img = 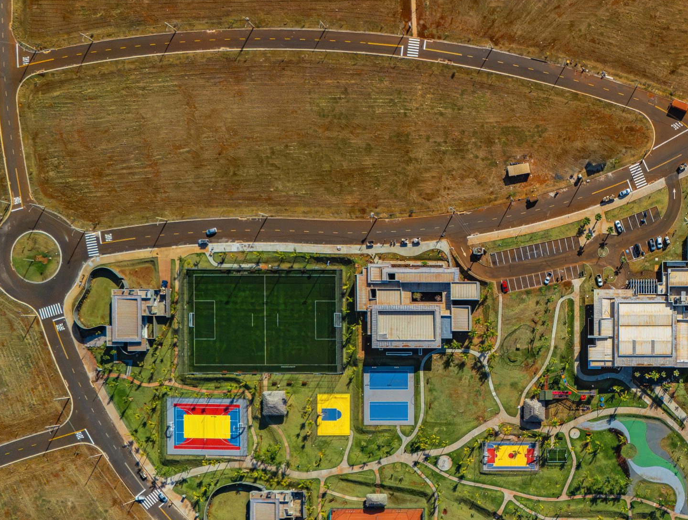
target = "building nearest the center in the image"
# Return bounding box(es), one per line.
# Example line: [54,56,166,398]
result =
[356,264,481,355]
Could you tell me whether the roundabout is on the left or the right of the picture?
left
